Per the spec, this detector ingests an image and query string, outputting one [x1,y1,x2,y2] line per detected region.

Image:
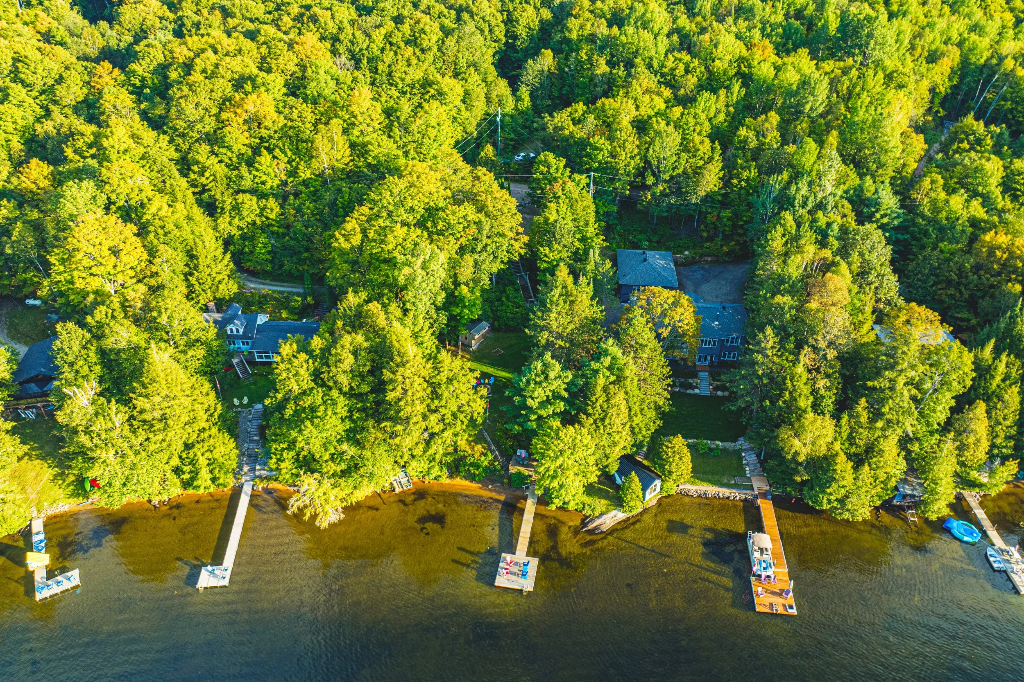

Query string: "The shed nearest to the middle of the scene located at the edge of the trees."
[458,317,490,348]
